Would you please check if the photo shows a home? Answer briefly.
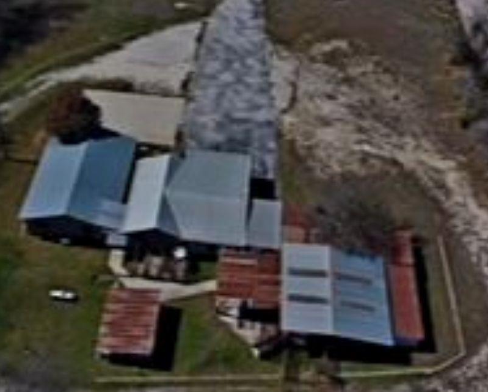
Yes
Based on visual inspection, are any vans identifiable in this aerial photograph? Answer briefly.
No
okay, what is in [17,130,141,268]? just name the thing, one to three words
house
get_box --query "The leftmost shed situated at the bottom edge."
[93,287,162,375]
